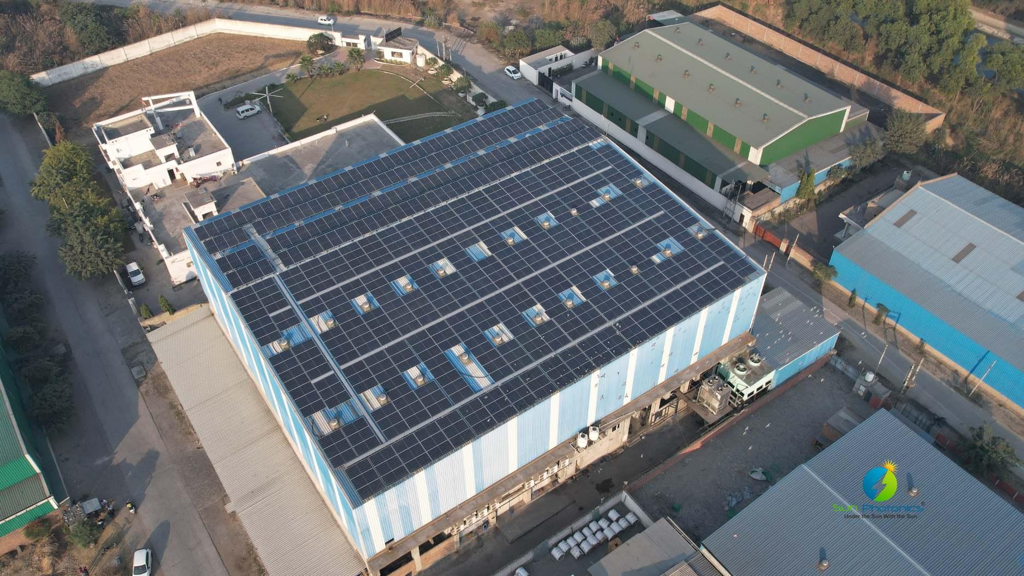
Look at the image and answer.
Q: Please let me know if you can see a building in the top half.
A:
Yes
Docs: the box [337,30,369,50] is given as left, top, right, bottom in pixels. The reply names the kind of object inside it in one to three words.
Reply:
building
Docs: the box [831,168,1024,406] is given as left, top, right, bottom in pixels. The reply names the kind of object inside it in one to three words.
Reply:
shed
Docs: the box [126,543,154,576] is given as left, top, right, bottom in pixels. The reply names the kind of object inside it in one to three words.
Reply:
car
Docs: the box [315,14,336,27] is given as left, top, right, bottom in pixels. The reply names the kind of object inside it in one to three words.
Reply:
vehicle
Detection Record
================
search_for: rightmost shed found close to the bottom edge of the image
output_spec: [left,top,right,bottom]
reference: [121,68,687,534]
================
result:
[698,411,1024,576]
